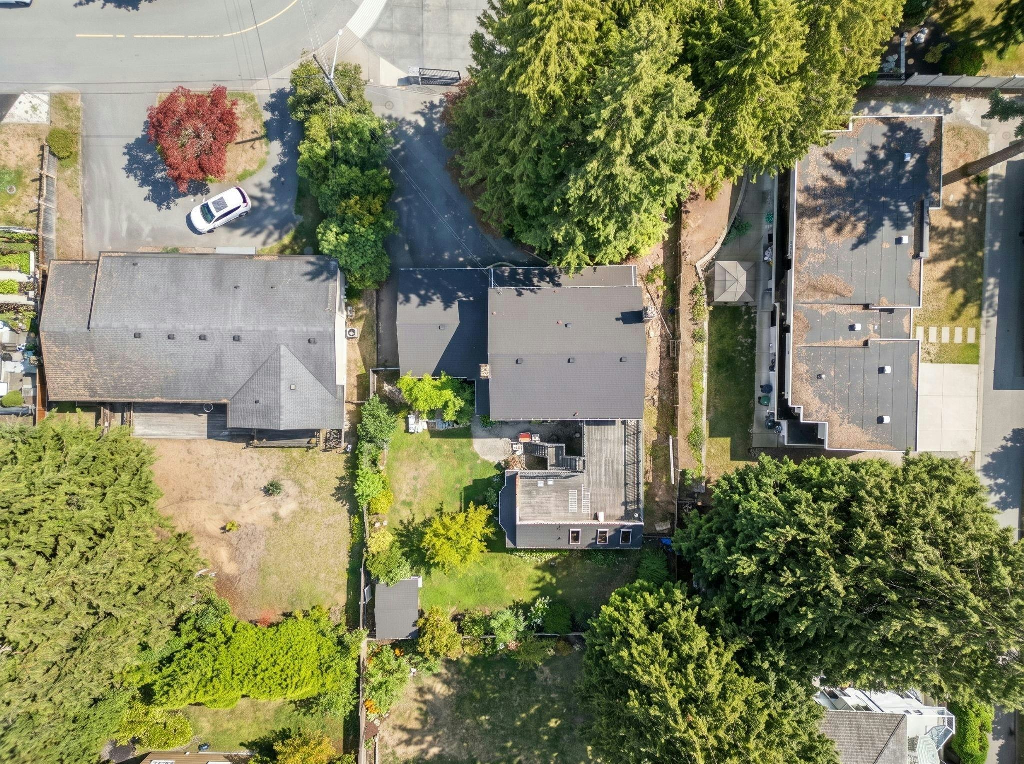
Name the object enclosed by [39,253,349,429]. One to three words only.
house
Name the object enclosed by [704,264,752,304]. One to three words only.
gazebo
